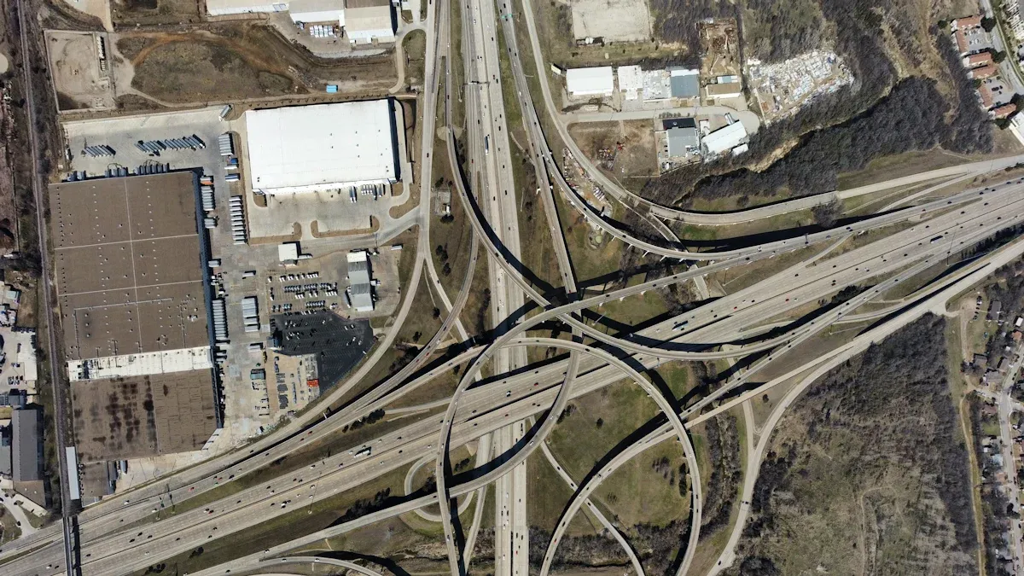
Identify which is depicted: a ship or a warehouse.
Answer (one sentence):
I can see a warehouse in this picture.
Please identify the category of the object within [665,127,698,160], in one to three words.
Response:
building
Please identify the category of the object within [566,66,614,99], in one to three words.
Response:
shed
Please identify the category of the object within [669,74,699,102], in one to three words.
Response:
shed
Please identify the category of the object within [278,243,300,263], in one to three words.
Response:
building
